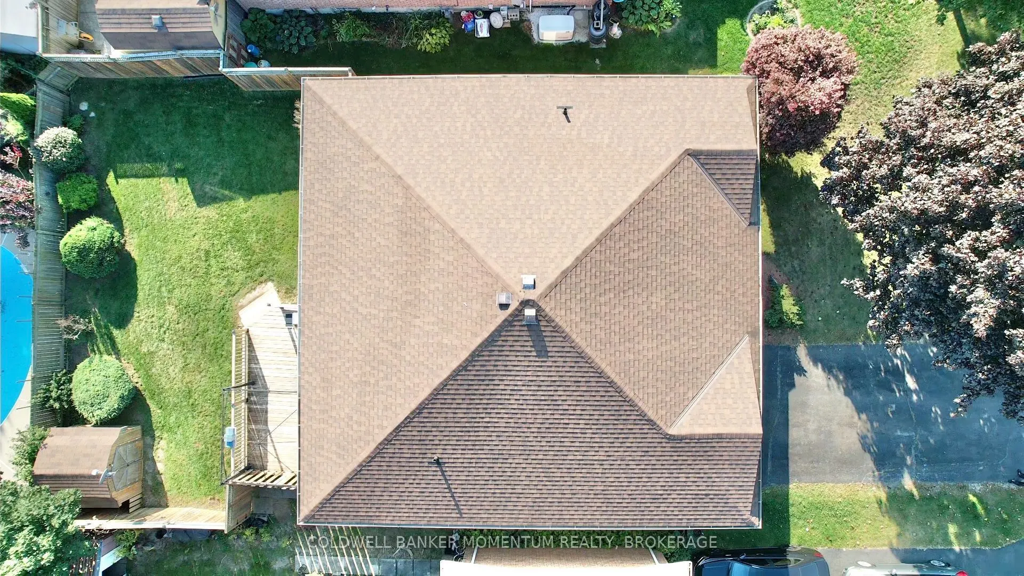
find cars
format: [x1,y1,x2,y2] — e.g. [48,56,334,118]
[694,544,835,576]
[836,560,979,576]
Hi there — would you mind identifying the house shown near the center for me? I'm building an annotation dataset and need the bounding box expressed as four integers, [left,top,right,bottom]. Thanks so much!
[298,75,762,528]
